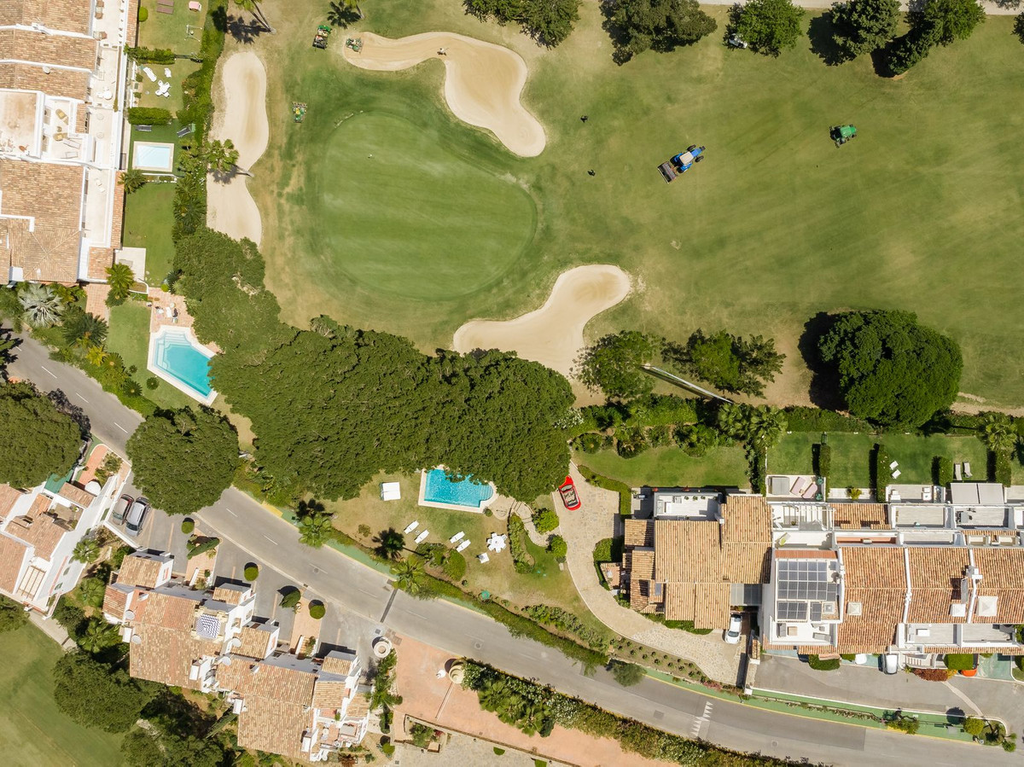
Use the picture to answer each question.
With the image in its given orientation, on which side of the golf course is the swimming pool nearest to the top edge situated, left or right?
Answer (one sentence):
Relative to the golf course, the swimming pool nearest to the top edge lies to the left.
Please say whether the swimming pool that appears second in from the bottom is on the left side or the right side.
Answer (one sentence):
It is on the left.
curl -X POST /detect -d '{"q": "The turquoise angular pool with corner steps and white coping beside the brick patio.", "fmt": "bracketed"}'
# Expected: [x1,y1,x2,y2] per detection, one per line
[147,325,226,407]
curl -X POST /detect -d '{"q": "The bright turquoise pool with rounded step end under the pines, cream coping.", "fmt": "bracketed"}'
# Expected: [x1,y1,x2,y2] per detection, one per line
[418,466,499,513]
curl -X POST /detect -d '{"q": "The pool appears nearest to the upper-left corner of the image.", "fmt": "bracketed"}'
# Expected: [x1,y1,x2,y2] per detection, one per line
[132,141,174,172]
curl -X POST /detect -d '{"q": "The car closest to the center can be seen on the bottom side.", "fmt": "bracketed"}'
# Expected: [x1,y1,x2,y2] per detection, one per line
[558,475,582,514]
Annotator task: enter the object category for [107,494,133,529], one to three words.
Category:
car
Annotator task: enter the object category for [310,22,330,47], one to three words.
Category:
vehicle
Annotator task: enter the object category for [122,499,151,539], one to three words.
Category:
car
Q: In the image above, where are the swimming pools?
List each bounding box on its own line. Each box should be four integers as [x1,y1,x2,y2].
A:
[132,141,174,172]
[147,325,226,407]
[418,466,499,513]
